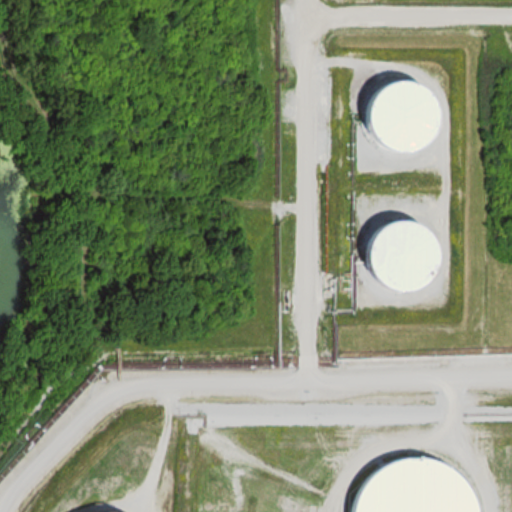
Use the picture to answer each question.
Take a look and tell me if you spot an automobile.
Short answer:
No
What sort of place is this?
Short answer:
industrial area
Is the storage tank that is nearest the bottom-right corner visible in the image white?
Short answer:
Yes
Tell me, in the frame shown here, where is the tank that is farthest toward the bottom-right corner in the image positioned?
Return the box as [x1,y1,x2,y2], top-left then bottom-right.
[352,456,480,512]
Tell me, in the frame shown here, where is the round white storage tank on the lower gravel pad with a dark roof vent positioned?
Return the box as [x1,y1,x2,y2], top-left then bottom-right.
[364,218,444,294]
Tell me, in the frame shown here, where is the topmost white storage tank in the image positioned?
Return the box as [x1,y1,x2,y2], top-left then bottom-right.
[364,79,444,155]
